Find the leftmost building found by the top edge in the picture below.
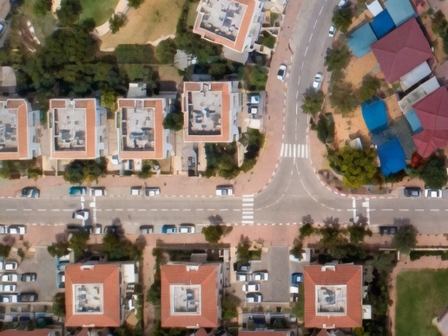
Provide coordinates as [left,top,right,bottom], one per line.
[193,0,275,49]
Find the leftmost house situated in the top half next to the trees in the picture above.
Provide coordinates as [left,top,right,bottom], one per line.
[0,98,50,158]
